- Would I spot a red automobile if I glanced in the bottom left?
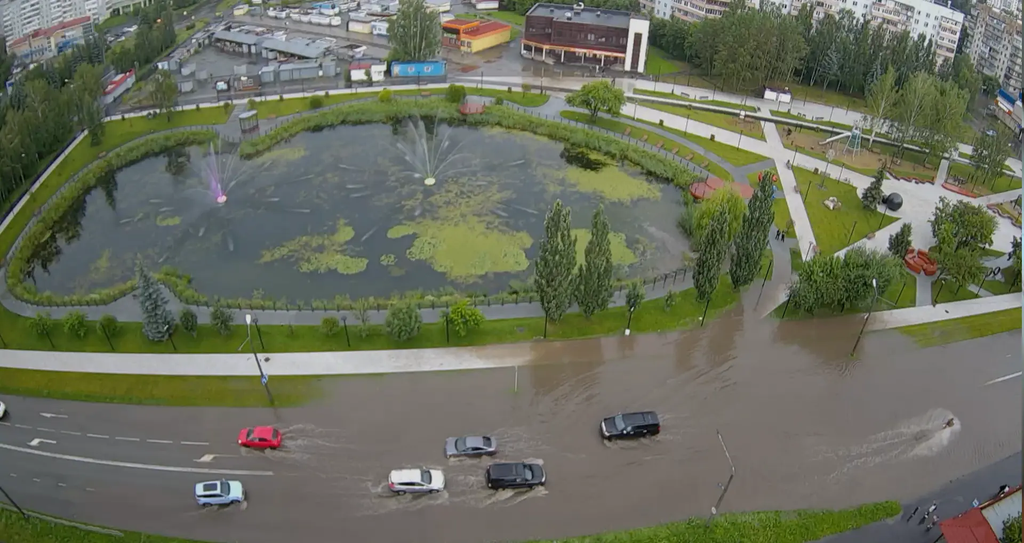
Yes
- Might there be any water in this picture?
Yes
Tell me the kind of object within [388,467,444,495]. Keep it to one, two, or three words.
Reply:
car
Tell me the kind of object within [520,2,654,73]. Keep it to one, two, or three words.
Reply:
building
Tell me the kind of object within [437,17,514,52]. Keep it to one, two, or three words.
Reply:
building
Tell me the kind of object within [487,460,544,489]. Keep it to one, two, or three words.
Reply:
car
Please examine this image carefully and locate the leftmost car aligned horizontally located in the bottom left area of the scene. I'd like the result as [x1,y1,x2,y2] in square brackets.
[187,478,249,509]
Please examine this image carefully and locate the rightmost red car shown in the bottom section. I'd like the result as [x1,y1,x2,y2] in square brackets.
[234,427,284,451]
